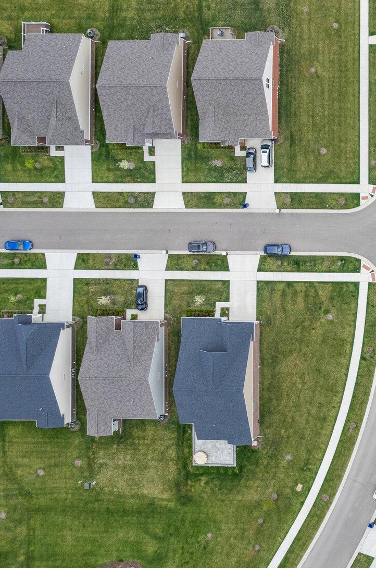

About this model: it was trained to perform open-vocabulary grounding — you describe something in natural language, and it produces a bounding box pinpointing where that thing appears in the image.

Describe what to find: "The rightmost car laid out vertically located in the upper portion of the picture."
[259,140,273,168]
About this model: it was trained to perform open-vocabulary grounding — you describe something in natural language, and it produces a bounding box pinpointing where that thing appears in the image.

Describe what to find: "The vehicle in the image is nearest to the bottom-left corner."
[135,285,149,311]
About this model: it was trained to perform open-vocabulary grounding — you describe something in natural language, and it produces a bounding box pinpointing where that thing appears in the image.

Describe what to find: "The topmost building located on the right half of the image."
[192,30,284,147]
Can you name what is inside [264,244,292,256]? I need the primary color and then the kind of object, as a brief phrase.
blue vehicle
